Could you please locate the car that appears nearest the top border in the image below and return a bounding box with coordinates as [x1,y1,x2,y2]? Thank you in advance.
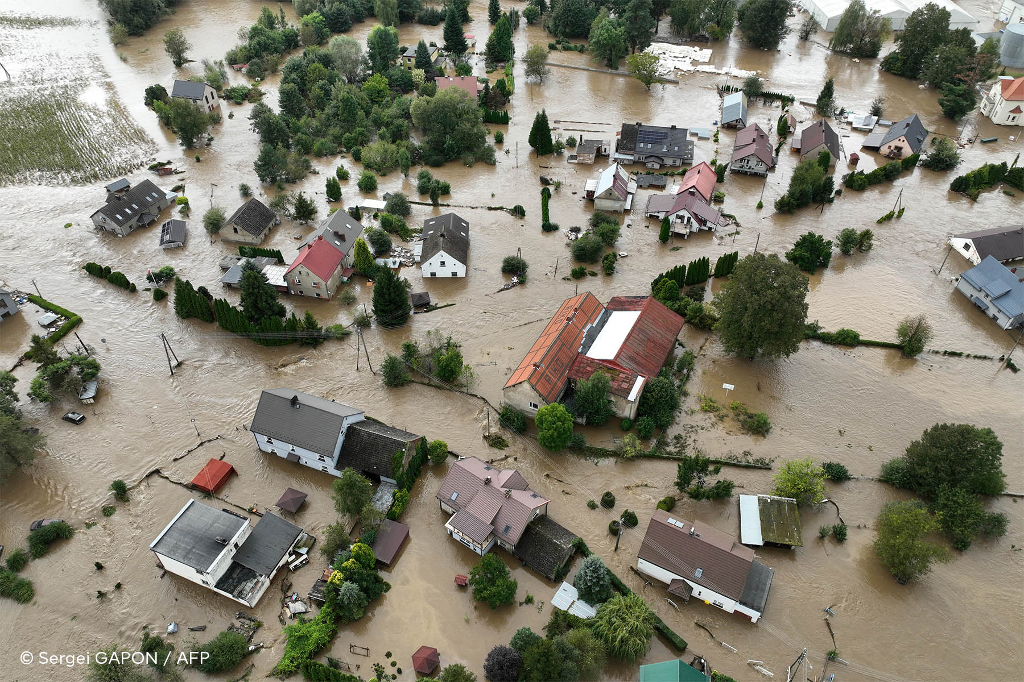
[61,412,88,428]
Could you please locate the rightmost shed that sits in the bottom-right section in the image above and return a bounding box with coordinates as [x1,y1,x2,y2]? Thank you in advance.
[734,494,803,551]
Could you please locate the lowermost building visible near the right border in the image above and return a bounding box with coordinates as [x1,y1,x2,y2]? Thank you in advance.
[957,255,1024,328]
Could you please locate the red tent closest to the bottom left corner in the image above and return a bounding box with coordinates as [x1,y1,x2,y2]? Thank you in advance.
[192,459,234,496]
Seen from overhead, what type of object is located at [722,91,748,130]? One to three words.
barn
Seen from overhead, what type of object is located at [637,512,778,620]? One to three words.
house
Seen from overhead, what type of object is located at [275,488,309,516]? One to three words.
gazebo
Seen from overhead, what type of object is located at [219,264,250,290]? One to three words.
shed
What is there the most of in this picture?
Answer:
water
